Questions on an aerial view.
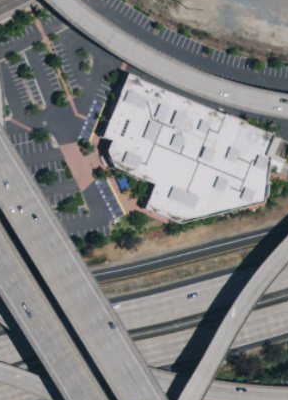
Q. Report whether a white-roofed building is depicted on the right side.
Yes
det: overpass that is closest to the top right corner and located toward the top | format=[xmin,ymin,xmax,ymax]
[43,0,288,119]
